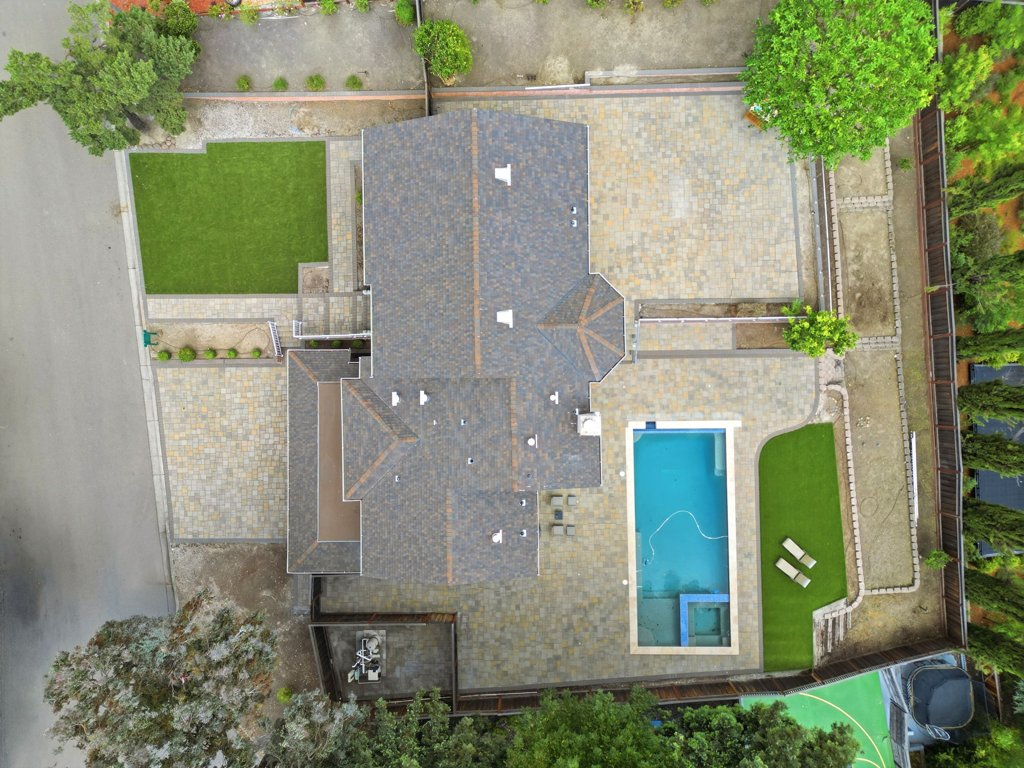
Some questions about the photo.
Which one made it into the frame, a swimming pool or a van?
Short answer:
swimming pool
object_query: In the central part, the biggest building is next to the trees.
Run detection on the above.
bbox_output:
[284,110,629,585]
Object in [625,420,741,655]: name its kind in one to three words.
swimming pool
